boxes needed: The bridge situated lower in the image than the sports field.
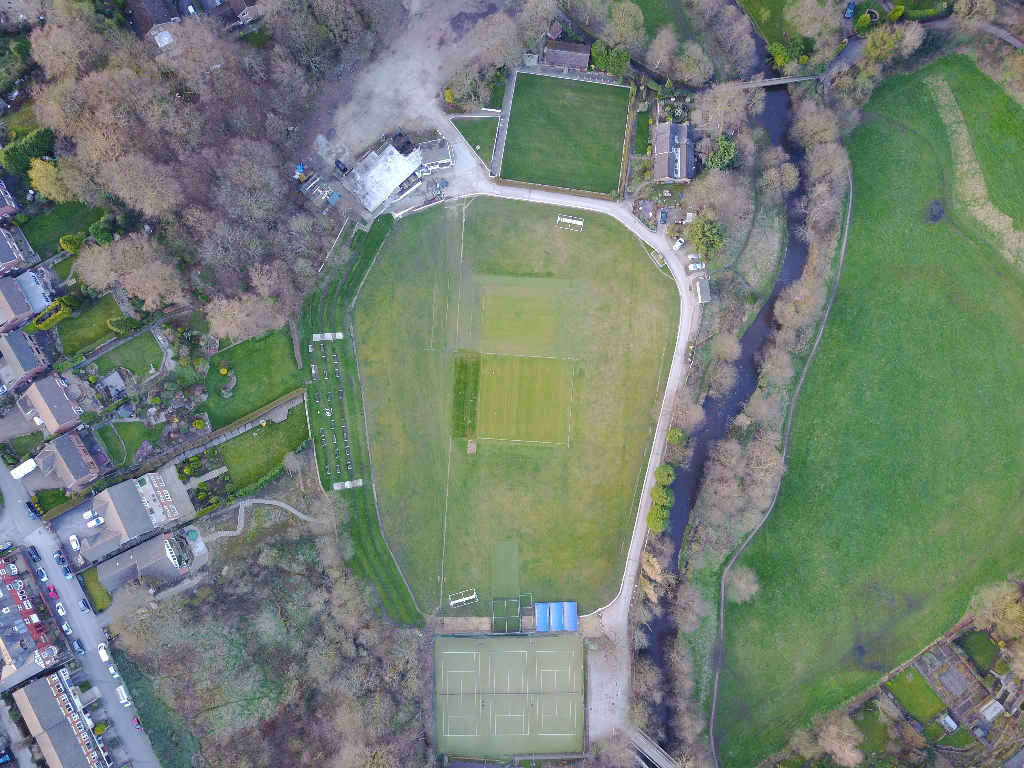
[625,729,680,768]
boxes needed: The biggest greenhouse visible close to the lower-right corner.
[975,694,1003,720]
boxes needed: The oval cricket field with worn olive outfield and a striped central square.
[353,194,681,633]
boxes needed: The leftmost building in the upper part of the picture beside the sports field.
[342,142,424,215]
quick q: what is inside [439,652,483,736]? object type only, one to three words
tennis court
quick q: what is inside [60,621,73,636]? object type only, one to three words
vehicle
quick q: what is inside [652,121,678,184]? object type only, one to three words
house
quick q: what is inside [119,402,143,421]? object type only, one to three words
gazebo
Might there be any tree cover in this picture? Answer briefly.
Yes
